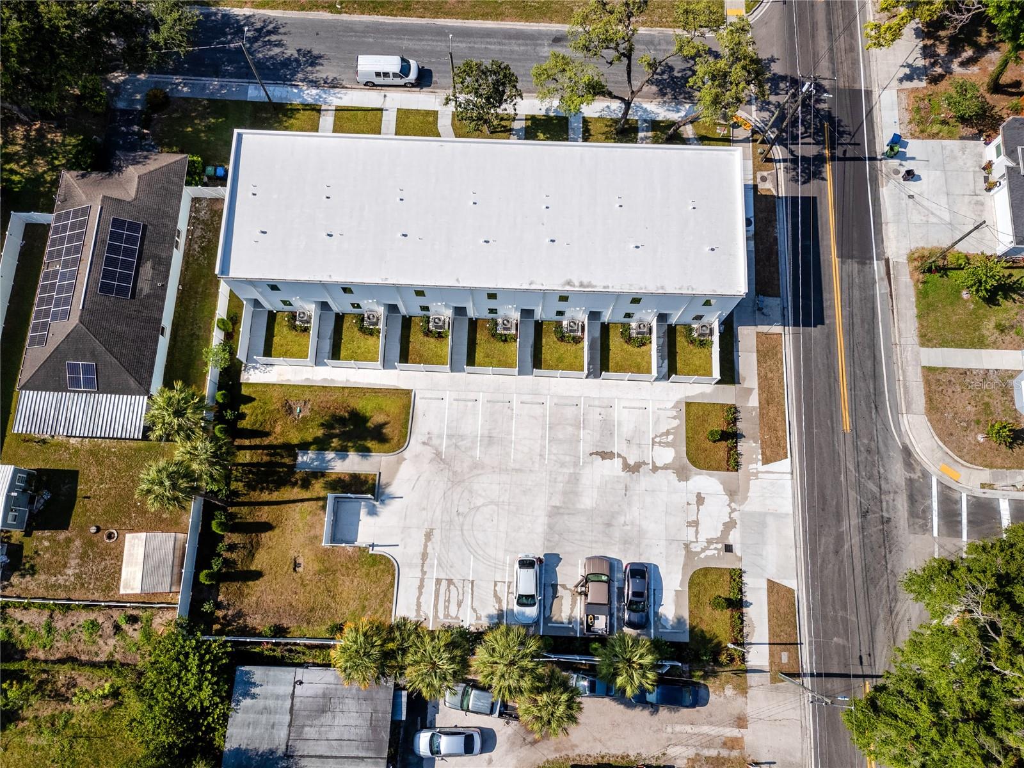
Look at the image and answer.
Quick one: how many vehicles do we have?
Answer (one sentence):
Altogether the scene contains 8 vehicles.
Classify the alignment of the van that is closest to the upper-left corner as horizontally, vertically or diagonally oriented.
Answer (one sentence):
I'd say the van that is closest to the upper-left corner is aligned horizontally in the picture.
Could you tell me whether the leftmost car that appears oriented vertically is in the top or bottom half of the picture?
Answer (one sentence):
It is in the bottom half that the leftmost car that appears oriented vertically appears.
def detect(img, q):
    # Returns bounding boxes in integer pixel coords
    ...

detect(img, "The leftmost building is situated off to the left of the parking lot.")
[0,465,38,530]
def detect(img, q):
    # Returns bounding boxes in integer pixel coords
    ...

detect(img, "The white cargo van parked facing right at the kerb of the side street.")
[354,56,420,90]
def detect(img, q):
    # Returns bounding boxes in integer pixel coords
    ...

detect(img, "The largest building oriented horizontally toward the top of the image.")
[216,131,748,330]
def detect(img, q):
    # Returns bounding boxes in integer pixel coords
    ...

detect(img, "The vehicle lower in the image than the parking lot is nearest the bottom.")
[415,728,481,762]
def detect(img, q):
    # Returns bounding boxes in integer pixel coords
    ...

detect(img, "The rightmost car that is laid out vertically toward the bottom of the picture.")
[622,564,651,628]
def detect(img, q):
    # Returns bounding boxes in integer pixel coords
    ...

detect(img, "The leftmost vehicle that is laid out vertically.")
[512,556,542,622]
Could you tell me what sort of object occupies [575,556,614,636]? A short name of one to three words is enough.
truck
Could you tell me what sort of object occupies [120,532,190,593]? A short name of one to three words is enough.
shed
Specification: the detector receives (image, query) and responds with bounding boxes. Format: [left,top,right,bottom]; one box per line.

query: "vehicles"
[566,667,633,704]
[512,556,542,622]
[575,556,614,636]
[622,564,651,628]
[447,687,527,729]
[632,678,701,711]
[415,728,481,762]
[354,56,420,90]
